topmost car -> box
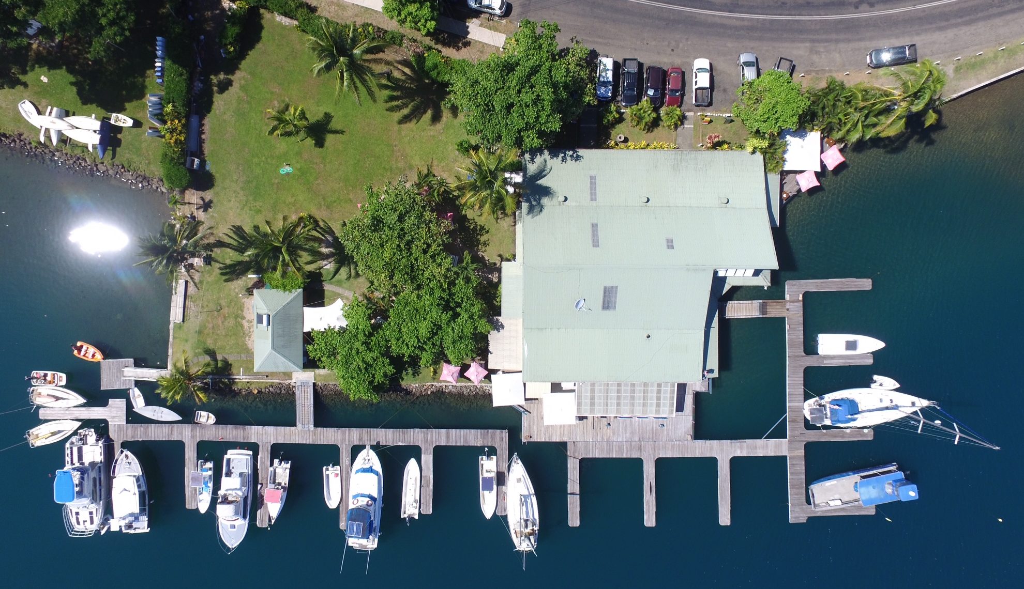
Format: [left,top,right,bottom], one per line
[463,0,510,20]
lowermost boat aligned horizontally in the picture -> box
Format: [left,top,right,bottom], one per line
[807,464,918,512]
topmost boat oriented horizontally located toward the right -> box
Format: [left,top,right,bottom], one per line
[812,333,886,355]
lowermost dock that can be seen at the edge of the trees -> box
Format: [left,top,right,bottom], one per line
[109,424,509,529]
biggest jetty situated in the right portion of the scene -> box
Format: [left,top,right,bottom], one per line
[561,274,875,526]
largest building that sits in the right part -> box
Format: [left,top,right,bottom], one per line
[488,149,780,383]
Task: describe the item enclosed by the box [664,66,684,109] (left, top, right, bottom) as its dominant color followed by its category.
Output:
red car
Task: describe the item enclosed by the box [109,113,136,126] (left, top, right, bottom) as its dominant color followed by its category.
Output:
white boat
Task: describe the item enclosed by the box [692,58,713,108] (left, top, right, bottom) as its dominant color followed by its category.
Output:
white truck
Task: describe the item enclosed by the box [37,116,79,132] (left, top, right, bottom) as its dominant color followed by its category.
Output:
white boat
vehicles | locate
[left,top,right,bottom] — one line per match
[737,52,760,103]
[864,44,919,70]
[594,53,615,102]
[643,64,664,111]
[463,0,510,20]
[692,58,713,108]
[773,56,795,86]
[664,66,684,109]
[618,57,640,108]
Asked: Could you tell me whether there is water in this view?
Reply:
Yes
